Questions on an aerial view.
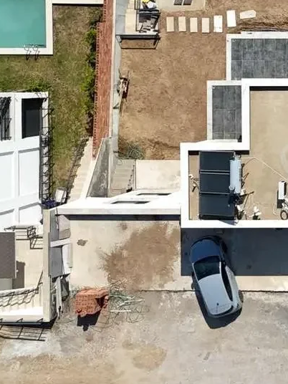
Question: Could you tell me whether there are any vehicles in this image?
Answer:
Yes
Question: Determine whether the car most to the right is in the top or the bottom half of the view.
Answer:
bottom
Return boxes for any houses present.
[0,92,52,216]
[180,32,288,228]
